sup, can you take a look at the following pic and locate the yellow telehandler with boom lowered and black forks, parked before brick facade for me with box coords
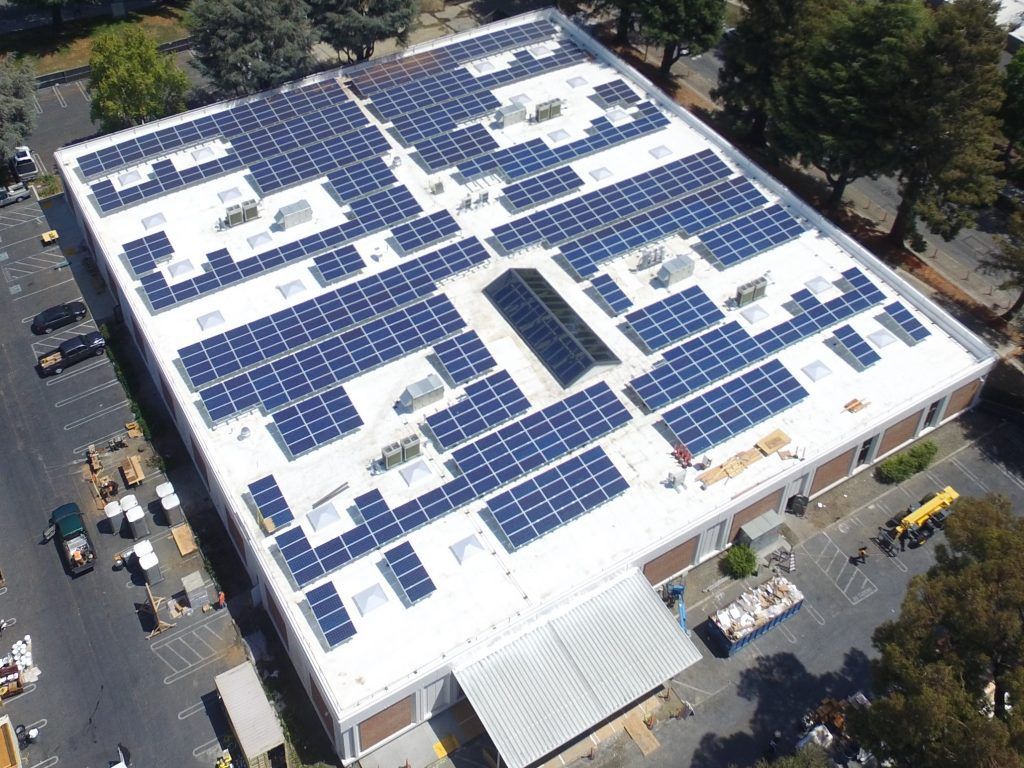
[885,481,962,544]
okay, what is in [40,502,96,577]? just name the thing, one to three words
truck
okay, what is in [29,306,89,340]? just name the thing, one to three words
car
